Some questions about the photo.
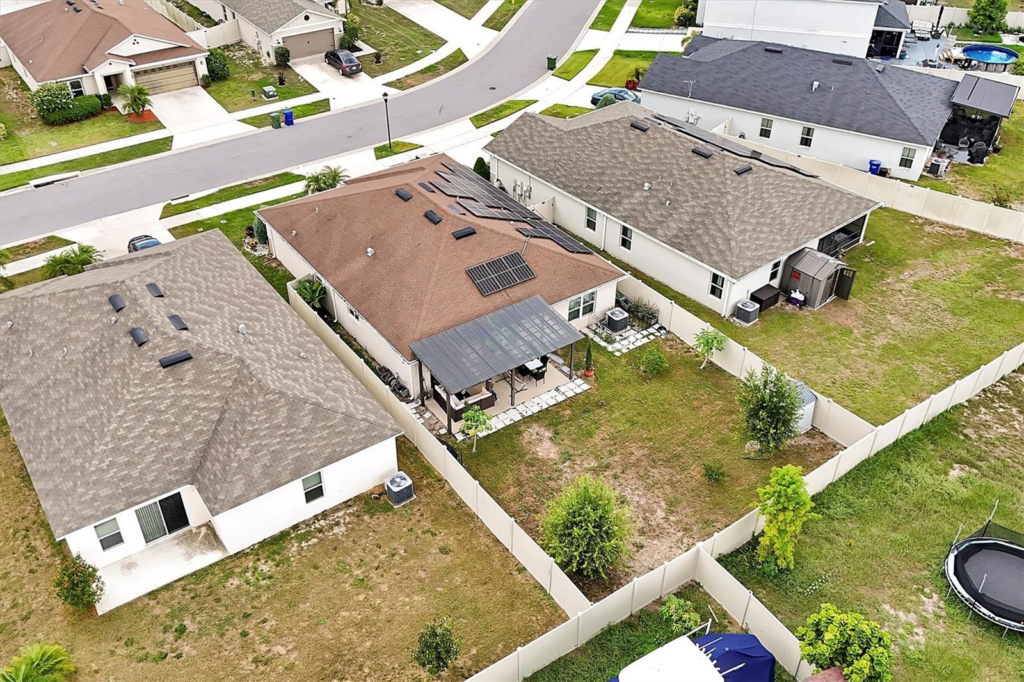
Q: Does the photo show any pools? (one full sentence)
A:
Yes, the photo shows a pool.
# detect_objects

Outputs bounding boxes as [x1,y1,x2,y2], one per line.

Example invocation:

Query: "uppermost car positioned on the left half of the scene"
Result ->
[327,51,362,75]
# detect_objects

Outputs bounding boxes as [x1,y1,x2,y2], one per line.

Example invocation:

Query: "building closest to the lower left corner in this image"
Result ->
[0,227,404,574]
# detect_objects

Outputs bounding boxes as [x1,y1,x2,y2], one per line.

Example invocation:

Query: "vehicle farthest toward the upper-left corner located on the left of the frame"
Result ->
[126,229,160,250]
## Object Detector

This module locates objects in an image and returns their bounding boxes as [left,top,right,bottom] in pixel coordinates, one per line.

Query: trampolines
[940,514,1024,645]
